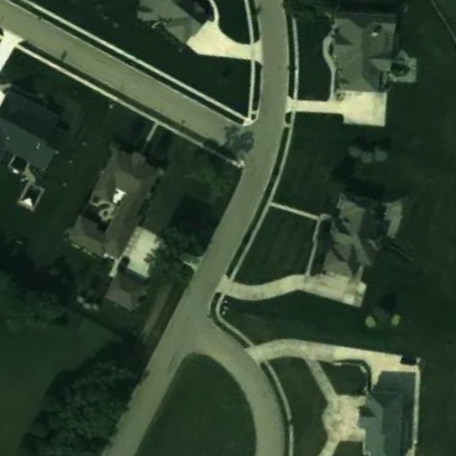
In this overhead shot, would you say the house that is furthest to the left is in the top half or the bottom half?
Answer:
top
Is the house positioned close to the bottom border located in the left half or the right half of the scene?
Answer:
right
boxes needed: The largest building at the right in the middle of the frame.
[320,190,390,280]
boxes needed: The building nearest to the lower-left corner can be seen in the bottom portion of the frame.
[105,270,148,314]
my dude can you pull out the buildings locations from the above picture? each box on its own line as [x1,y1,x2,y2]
[0,87,60,170]
[333,13,399,99]
[358,371,415,456]
[133,0,211,46]
[65,145,159,261]
[105,270,148,314]
[320,190,390,280]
